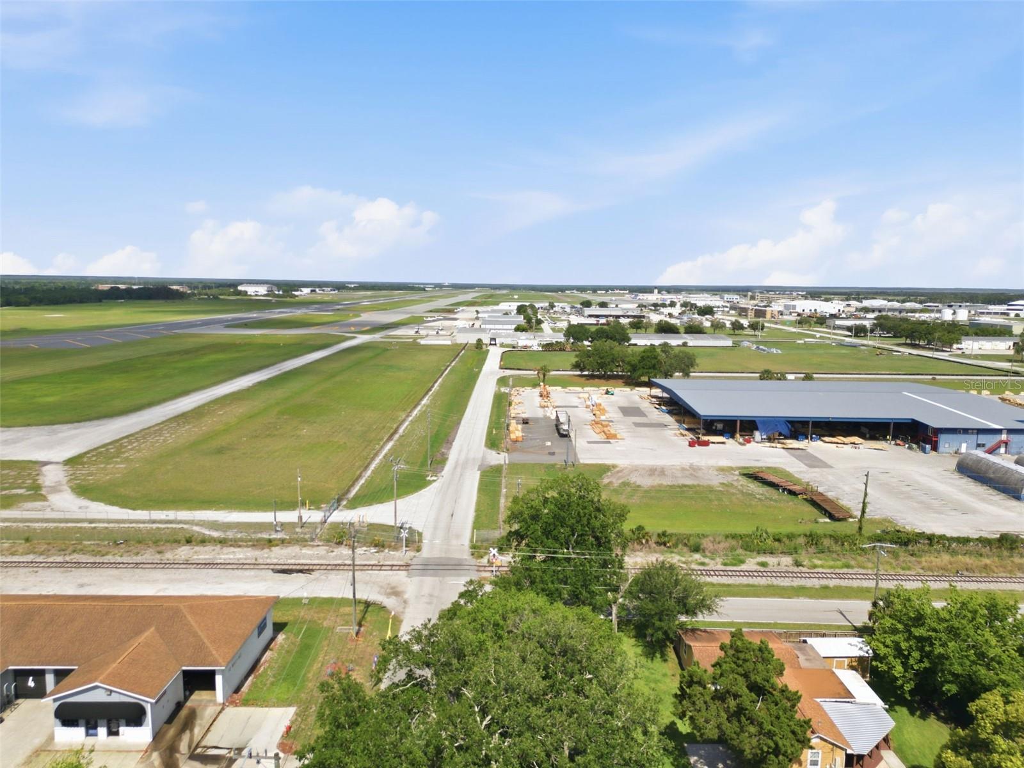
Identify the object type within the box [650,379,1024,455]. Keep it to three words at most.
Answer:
shed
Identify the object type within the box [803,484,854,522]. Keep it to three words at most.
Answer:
trailer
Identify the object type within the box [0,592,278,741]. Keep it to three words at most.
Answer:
building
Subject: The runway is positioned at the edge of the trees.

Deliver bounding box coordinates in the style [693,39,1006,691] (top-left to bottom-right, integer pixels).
[0,289,472,348]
